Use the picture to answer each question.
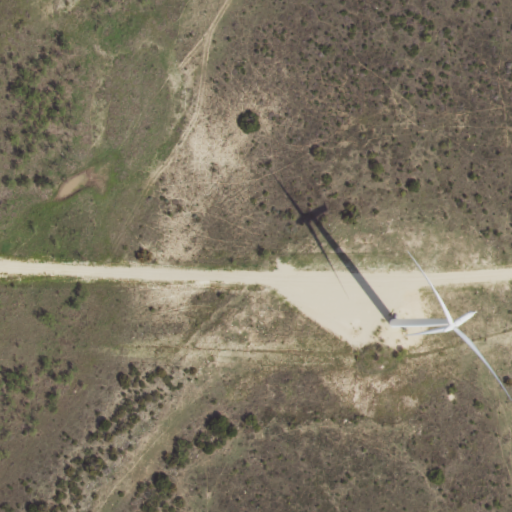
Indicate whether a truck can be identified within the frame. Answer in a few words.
No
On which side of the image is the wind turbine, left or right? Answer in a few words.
right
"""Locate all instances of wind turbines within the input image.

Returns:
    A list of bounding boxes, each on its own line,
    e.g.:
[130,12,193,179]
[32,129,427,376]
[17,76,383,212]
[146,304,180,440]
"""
[388,256,512,400]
